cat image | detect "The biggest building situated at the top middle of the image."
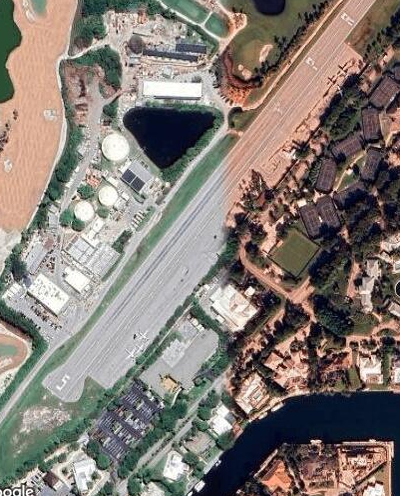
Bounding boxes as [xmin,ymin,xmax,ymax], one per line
[141,80,201,98]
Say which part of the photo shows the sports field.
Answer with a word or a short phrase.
right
